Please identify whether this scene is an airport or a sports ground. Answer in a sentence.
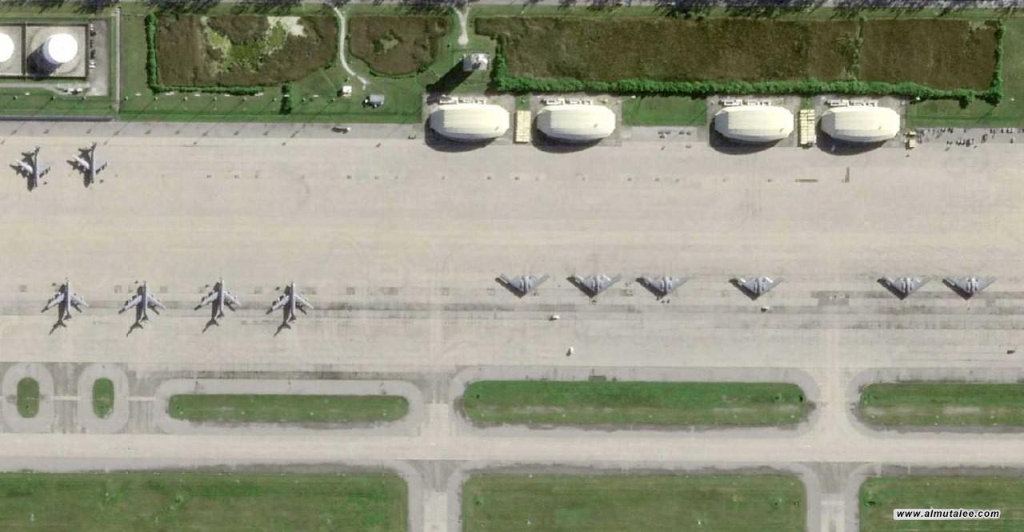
The area seen from above is an airport.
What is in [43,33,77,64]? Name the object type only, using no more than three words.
storage tank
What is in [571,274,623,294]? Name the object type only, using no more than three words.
airplane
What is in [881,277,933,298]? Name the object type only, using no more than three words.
airplane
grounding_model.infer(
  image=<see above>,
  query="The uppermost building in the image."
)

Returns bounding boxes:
[462,53,489,73]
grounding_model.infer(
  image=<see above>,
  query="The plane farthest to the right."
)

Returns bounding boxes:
[946,277,998,298]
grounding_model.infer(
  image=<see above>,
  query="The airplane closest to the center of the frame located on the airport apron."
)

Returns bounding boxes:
[499,273,551,294]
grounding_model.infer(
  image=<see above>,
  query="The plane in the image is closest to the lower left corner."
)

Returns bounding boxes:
[49,281,89,322]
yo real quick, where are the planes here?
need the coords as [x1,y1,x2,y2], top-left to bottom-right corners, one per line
[74,139,114,182]
[571,274,623,294]
[881,277,933,298]
[126,282,166,324]
[499,273,551,294]
[640,274,692,295]
[946,277,998,298]
[274,283,314,324]
[17,144,57,187]
[203,280,243,321]
[734,276,786,297]
[49,281,89,322]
